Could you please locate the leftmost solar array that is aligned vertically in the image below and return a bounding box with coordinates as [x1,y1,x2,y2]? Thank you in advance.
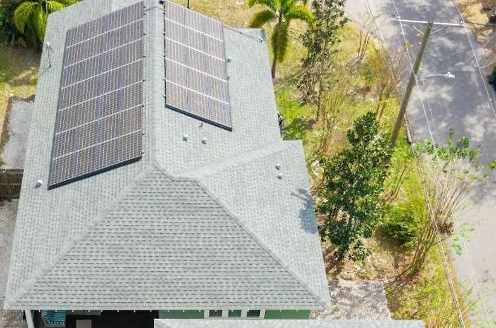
[47,1,147,191]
